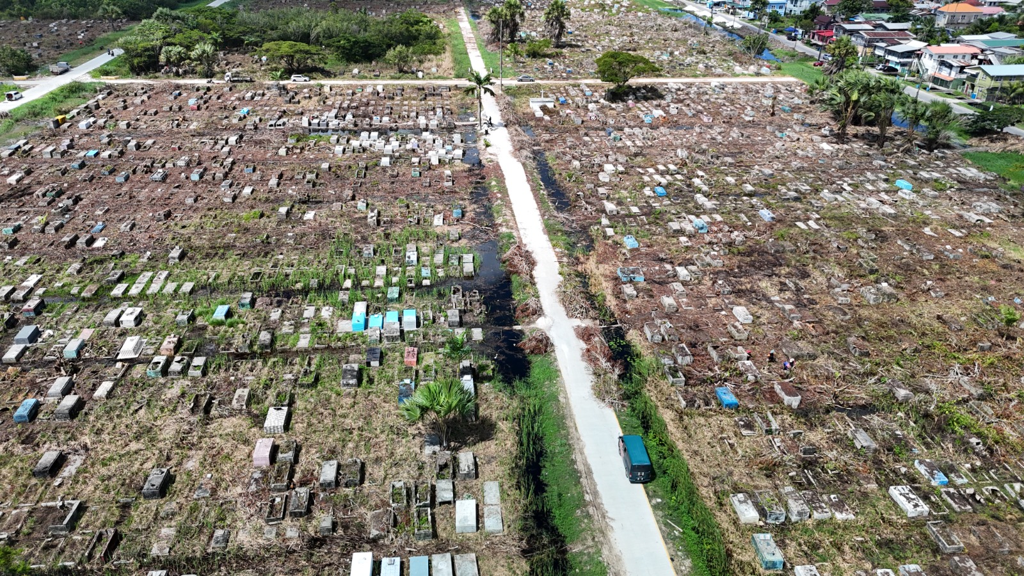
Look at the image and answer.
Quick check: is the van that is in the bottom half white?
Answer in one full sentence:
No, the van that is in the bottom half is actually blue.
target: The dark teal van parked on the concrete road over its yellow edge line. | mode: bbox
[618,436,652,481]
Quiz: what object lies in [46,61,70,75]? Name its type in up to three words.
vehicle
